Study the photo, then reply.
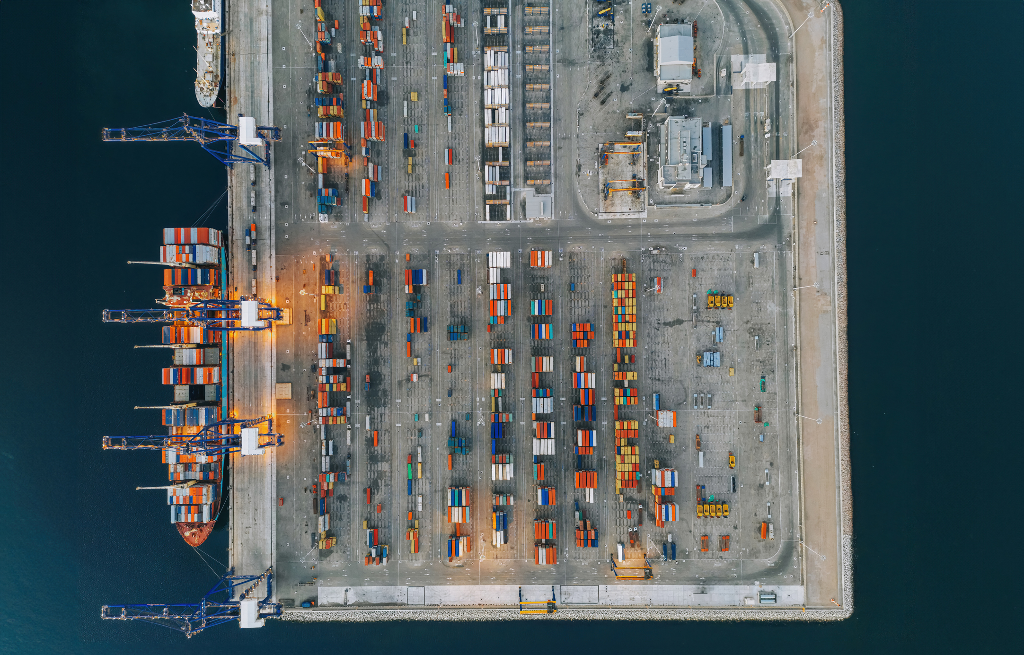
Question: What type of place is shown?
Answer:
port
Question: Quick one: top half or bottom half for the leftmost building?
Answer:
top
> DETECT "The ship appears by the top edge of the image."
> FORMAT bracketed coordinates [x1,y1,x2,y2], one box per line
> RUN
[187,0,225,107]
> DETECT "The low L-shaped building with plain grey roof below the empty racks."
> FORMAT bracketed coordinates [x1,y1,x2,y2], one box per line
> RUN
[526,191,551,220]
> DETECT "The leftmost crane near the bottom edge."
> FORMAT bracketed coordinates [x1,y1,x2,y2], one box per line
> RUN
[103,566,285,638]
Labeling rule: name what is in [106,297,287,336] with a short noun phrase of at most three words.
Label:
container crane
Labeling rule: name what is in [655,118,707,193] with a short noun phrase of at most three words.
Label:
building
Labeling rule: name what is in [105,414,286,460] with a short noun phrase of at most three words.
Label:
container crane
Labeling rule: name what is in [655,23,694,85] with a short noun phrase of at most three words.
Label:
building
